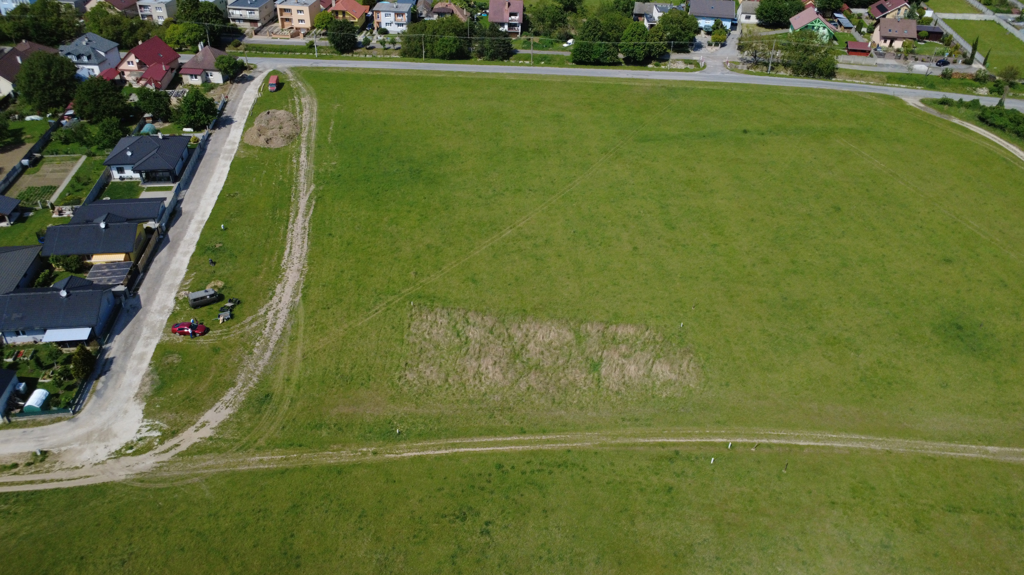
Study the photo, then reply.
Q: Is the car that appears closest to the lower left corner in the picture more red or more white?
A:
red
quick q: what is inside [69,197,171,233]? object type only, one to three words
house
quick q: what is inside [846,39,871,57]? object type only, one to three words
shed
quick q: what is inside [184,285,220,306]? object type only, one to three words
vehicle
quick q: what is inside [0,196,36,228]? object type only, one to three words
gazebo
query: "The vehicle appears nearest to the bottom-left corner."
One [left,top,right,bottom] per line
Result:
[167,315,209,337]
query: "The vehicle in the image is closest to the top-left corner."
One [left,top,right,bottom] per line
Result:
[266,74,281,88]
